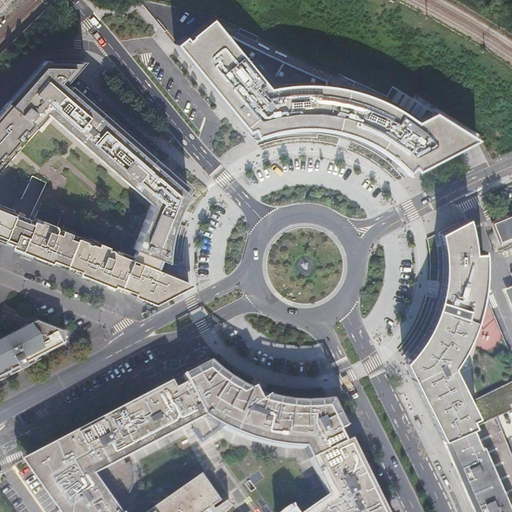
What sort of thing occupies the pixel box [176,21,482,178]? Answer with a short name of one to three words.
building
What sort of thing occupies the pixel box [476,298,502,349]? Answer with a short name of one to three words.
playground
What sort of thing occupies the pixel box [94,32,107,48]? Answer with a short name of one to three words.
vehicle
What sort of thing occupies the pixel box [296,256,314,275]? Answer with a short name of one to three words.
fountain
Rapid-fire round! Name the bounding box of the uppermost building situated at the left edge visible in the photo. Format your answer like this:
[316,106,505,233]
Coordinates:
[0,62,184,254]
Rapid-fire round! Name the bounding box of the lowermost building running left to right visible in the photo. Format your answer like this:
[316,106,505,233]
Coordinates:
[152,473,233,512]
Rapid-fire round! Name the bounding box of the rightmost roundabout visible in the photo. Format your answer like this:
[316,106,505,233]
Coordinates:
[245,205,366,326]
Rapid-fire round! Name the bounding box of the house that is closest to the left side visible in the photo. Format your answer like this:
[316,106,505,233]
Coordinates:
[0,320,68,384]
